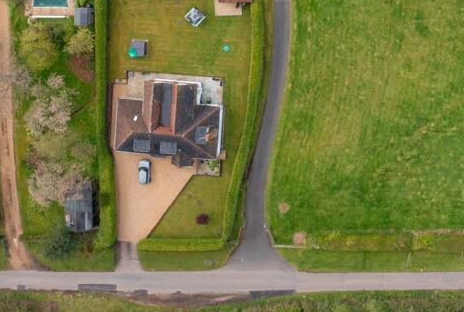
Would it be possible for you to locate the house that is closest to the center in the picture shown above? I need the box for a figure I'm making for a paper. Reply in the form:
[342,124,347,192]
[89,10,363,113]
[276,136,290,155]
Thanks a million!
[113,78,228,168]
